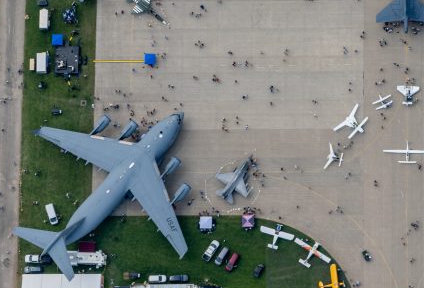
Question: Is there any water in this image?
No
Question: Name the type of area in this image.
airport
